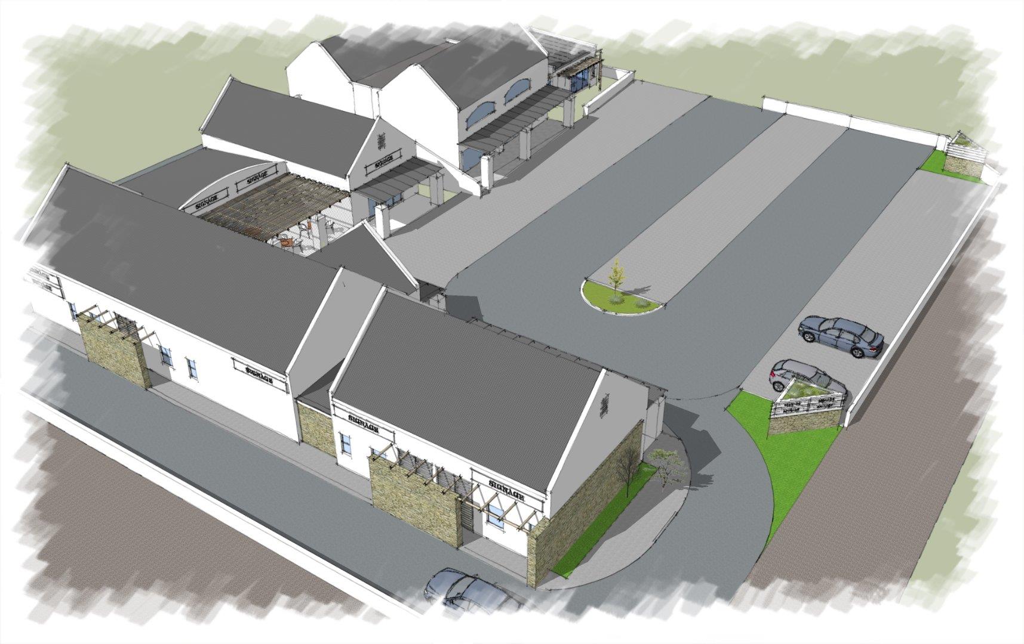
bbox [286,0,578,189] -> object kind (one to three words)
building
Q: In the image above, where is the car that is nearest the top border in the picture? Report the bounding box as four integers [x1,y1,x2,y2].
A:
[796,317,888,359]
